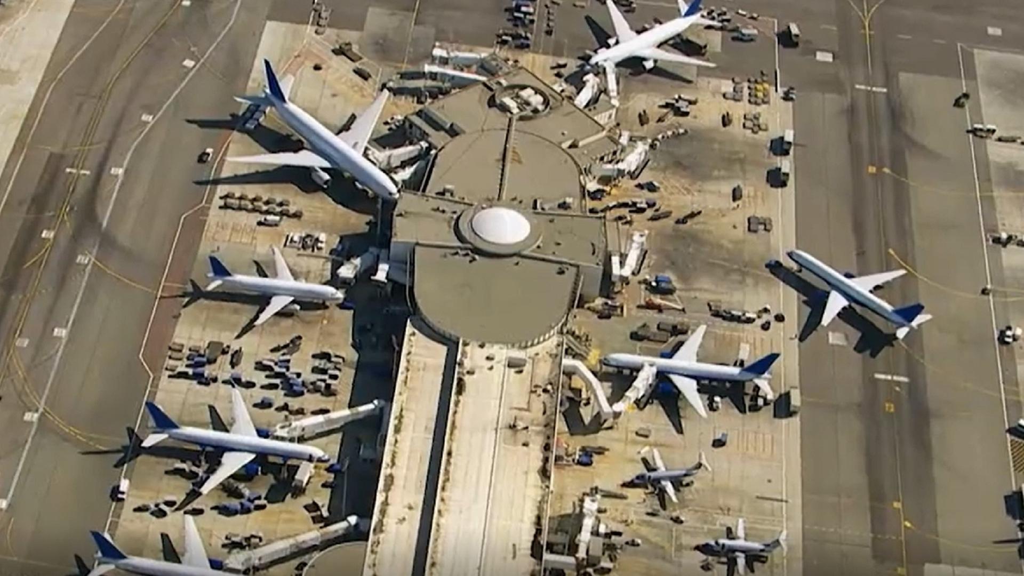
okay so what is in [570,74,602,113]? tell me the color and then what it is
white jet bridge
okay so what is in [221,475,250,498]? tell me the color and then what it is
gray work vehicle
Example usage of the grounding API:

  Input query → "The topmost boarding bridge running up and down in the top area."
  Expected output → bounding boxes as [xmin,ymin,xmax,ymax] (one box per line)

[600,62,621,124]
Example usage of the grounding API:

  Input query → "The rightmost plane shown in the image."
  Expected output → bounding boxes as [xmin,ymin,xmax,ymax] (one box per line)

[788,250,946,327]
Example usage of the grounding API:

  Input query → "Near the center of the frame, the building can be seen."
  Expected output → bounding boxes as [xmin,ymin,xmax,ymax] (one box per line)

[303,50,634,576]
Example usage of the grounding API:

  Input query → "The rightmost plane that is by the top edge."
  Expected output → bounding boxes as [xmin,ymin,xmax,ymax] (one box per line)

[588,0,737,71]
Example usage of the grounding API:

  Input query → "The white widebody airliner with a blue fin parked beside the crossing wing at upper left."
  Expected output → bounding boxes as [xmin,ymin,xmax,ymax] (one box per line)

[216,66,399,200]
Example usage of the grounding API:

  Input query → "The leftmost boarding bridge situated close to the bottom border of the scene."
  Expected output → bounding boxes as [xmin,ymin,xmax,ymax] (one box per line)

[228,514,364,576]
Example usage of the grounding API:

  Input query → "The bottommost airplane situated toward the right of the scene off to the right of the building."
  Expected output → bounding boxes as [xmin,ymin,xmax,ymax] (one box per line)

[696,518,794,573]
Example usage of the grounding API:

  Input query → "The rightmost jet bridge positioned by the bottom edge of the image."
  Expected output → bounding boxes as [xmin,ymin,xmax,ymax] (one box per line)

[545,492,601,576]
